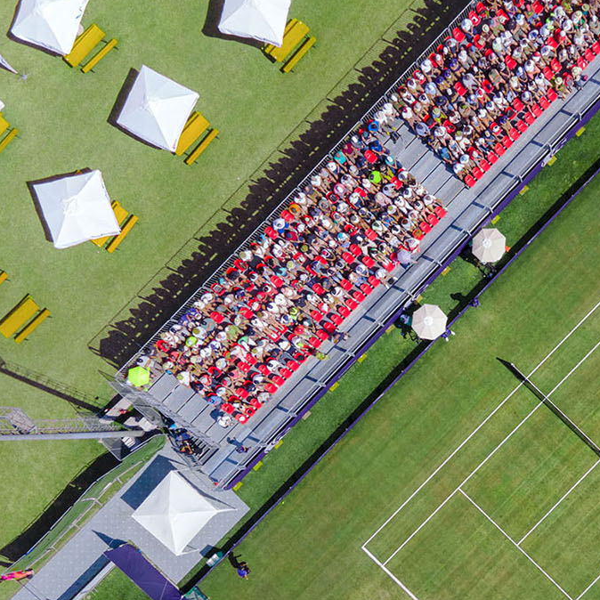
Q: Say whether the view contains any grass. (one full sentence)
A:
Yes, there's grass in this view.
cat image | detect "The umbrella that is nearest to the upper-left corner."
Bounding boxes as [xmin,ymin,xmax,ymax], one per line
[13,0,97,57]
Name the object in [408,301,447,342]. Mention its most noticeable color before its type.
white umbrella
